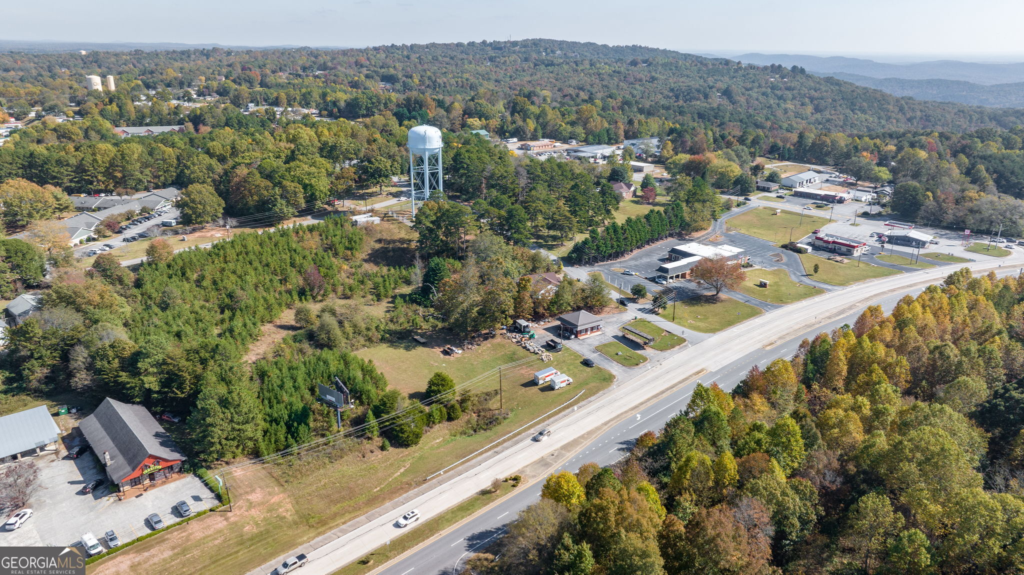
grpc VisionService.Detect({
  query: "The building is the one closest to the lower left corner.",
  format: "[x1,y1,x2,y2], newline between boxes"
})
[0,405,61,465]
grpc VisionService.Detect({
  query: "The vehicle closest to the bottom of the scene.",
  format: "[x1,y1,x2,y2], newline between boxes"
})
[276,552,312,575]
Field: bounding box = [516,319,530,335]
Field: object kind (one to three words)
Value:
vehicle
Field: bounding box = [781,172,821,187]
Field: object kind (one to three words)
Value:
building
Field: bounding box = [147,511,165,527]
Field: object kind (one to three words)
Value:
car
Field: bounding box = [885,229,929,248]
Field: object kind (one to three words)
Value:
building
